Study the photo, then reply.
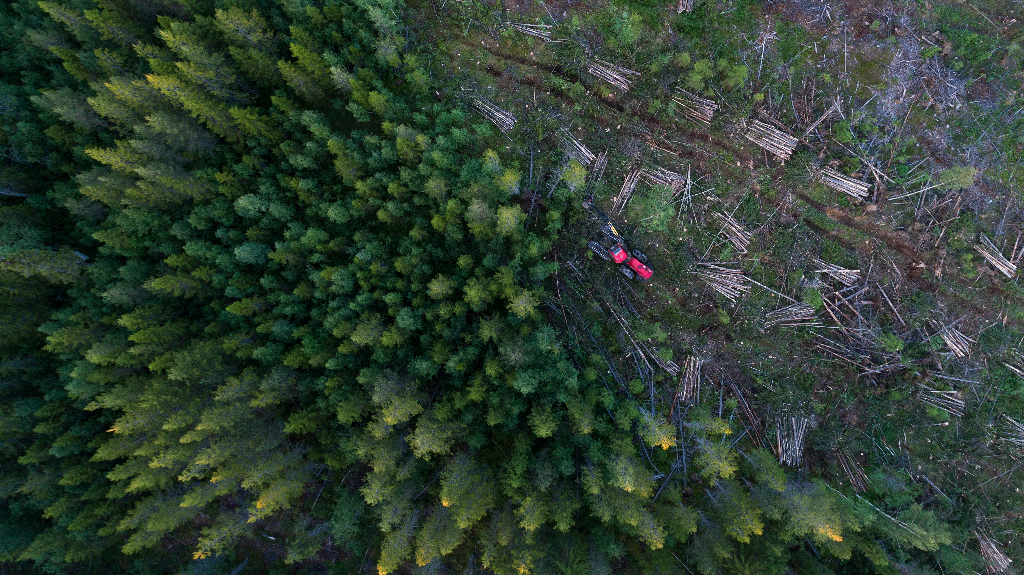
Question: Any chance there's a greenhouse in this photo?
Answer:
No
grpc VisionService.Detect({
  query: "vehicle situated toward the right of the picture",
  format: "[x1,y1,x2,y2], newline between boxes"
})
[582,194,654,281]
